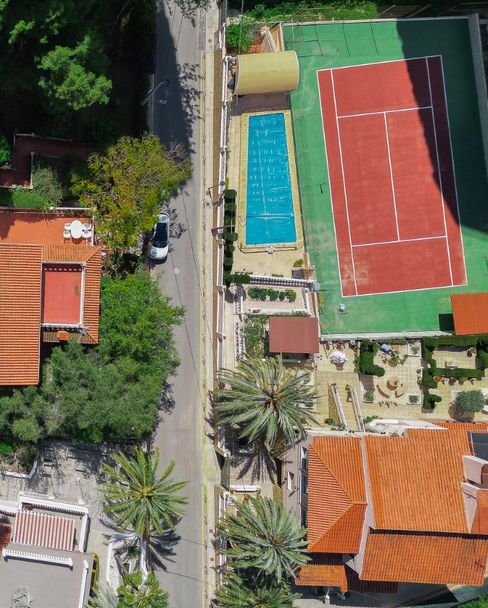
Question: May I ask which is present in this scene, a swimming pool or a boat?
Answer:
swimming pool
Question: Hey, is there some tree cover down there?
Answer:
Yes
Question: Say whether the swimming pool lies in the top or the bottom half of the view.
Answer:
top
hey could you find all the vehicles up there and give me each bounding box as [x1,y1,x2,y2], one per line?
[88,554,105,598]
[149,213,175,261]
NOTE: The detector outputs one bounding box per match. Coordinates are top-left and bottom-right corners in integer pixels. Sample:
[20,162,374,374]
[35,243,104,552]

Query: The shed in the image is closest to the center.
[262,317,320,352]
